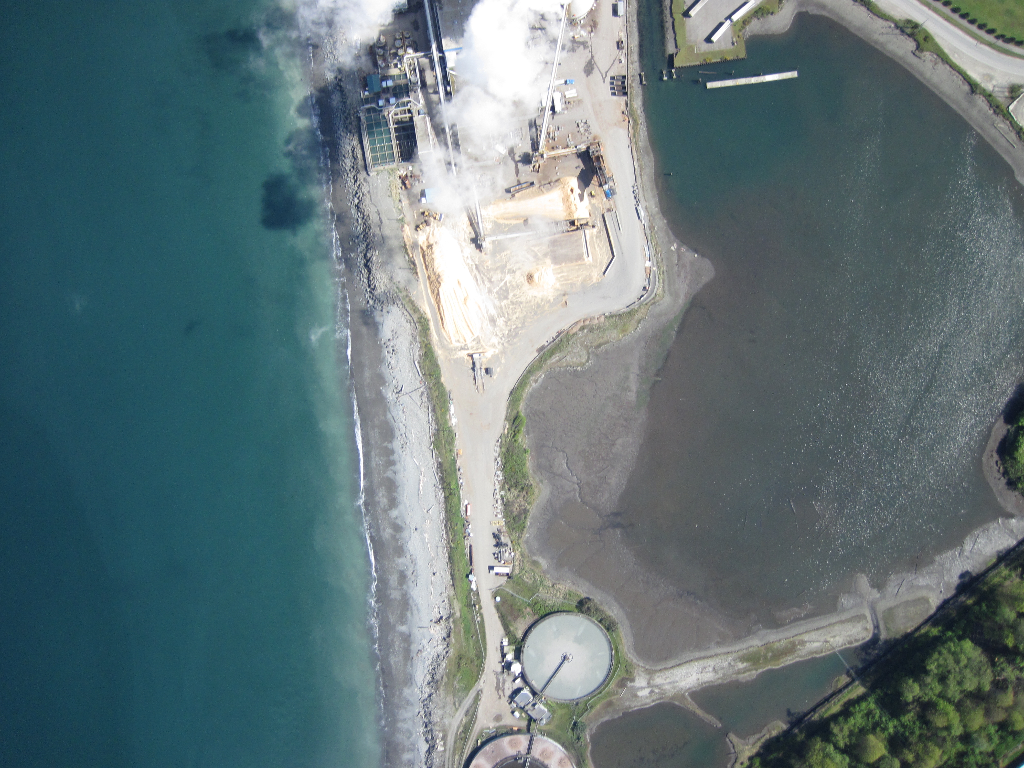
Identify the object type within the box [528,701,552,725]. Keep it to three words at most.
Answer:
building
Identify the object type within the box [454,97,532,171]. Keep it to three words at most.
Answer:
building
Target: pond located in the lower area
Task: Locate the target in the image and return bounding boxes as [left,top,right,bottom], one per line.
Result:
[590,646,855,768]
